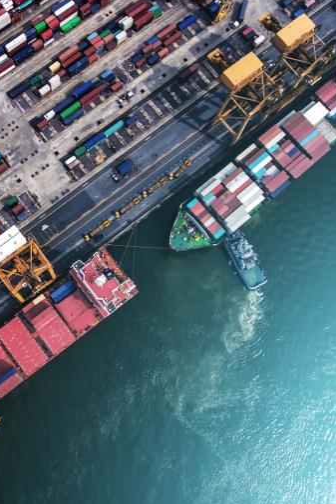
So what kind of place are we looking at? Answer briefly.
port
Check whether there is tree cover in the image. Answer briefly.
No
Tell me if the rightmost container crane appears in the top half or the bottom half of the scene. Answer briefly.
top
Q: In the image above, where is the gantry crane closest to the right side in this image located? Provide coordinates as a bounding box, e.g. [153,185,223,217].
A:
[255,13,336,111]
